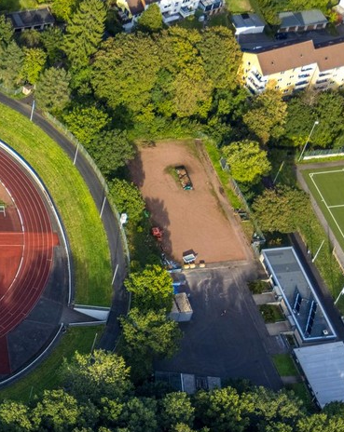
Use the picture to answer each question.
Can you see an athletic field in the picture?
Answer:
Yes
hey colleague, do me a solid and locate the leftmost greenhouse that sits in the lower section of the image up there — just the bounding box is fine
[153,369,181,397]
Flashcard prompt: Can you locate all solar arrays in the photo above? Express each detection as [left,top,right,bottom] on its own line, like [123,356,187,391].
[306,301,320,329]
[294,296,306,313]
